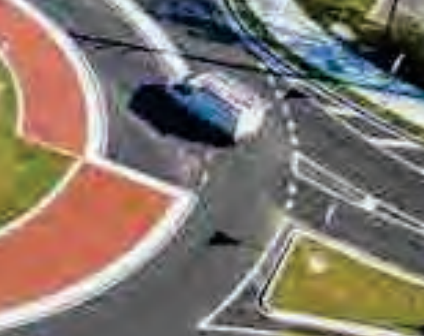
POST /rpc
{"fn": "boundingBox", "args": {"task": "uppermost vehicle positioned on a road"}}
[155,0,244,39]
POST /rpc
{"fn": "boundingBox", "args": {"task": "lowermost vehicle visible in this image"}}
[161,63,269,131]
